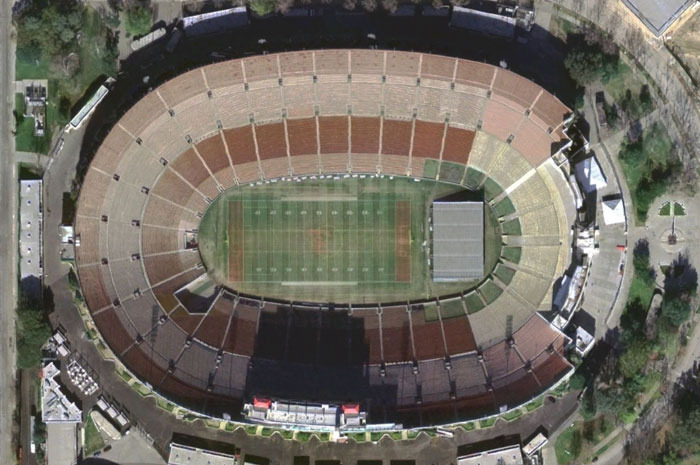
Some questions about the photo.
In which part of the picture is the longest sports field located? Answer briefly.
center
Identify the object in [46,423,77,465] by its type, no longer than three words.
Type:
building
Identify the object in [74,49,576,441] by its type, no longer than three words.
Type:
stadium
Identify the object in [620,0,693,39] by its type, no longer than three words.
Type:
building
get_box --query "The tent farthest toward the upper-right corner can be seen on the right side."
[575,156,607,193]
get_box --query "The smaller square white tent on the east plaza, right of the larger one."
[602,198,625,225]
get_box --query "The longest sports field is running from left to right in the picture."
[198,174,502,308]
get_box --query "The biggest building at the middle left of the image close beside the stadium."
[21,180,42,313]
